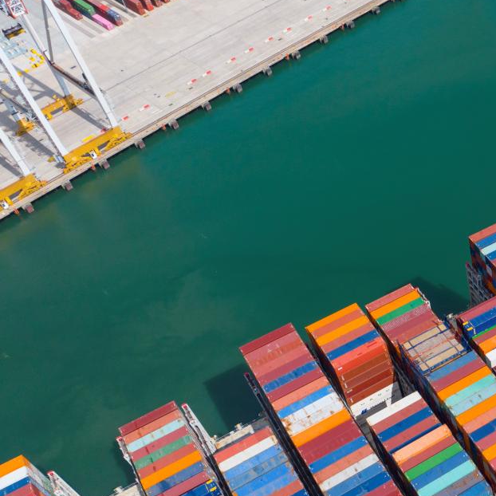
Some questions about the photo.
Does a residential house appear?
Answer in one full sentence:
No, the scene contains no residential house.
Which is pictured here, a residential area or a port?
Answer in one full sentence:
What you see here is a port.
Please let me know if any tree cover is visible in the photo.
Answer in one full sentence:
No, there is no tree cover in the image.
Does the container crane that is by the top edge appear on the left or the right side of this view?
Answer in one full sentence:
You can find the container crane that is by the top edge on the left side of the picture.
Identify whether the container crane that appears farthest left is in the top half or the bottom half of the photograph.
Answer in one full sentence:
The container crane that appears farthest left is in the top half of the image.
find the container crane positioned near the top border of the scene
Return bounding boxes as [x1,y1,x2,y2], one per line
[0,0,132,170]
